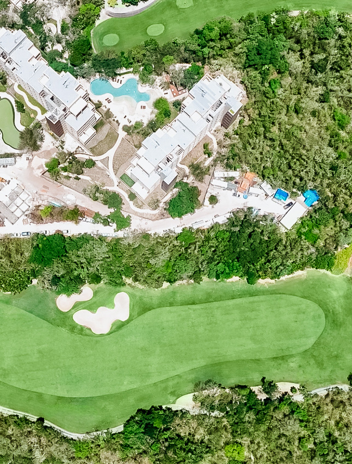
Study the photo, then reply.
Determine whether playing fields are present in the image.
No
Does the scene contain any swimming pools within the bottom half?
No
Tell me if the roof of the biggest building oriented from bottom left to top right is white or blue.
white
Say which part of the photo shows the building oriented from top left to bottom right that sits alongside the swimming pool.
top left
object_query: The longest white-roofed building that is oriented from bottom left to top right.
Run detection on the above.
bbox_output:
[120,73,245,200]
